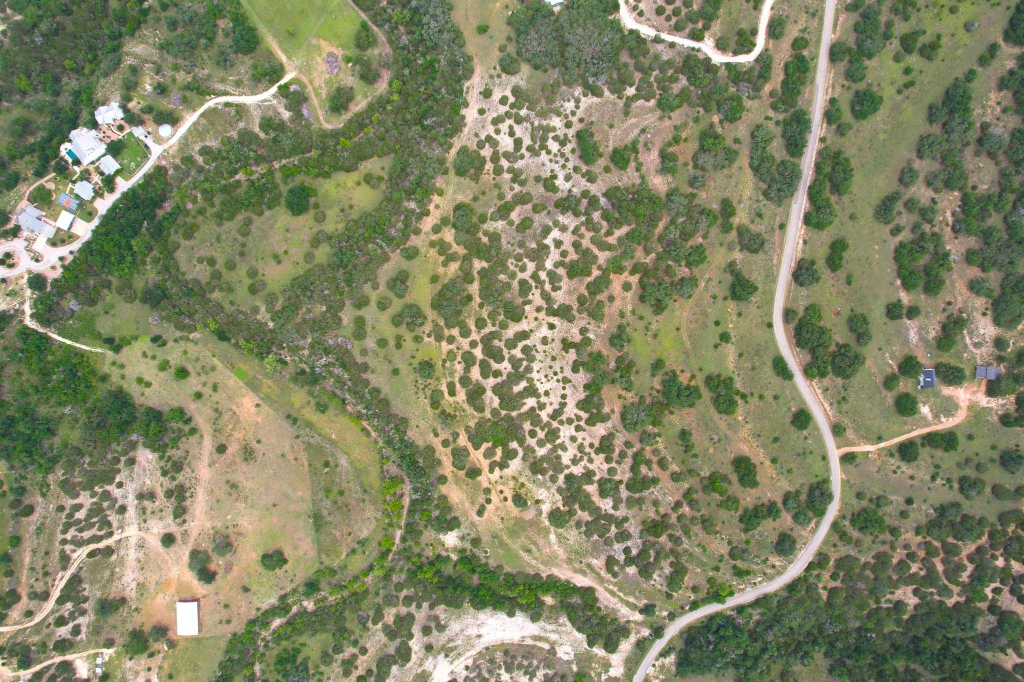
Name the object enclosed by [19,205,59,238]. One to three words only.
house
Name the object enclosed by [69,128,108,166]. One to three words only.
house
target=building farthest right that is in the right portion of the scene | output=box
[973,366,1000,380]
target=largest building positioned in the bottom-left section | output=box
[176,599,202,636]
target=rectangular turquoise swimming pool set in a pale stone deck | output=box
[60,143,82,163]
